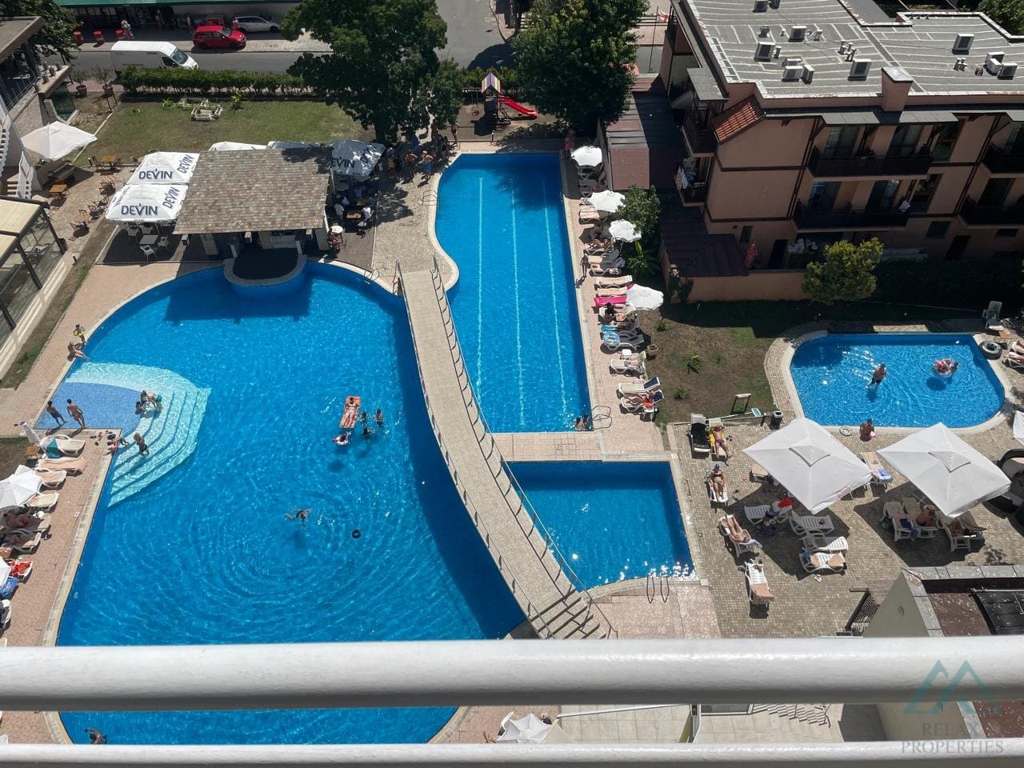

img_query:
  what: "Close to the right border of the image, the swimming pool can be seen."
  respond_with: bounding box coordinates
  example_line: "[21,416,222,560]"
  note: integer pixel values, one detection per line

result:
[791,335,1004,426]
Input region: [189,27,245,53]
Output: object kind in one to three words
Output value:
car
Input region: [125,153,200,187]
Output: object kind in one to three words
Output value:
umbrella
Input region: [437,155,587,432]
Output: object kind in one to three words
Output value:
swimming pool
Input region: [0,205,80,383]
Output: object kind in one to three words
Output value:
building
